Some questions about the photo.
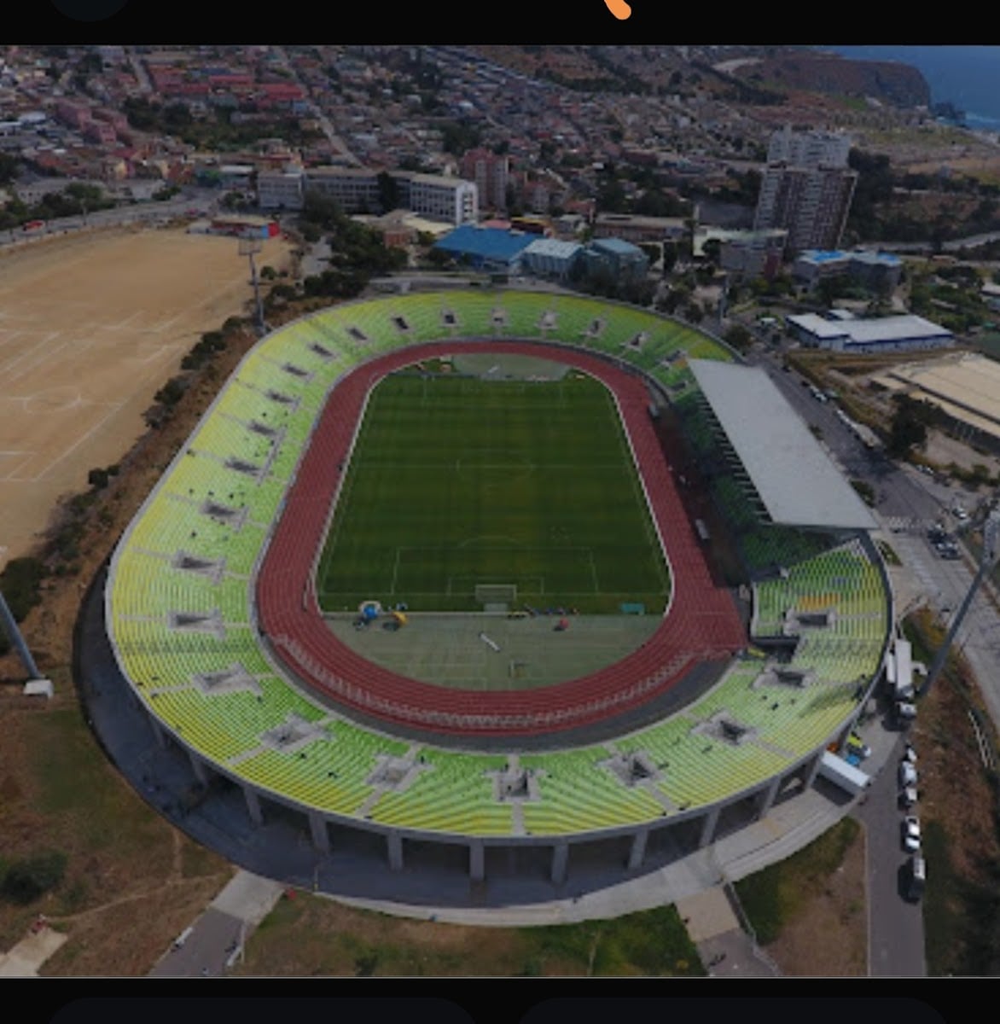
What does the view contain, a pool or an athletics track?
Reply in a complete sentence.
There is an athletics track in the scene.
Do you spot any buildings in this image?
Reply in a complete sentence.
Yes, there's a building here.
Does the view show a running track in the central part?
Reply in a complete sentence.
Yes, looking in the central part, one can make out a running track.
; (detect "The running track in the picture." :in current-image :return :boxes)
[264,343,726,735]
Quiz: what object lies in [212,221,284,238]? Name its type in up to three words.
building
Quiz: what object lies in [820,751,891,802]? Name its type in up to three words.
truck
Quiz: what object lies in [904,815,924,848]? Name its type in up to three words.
car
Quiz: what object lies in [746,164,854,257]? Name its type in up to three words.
building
